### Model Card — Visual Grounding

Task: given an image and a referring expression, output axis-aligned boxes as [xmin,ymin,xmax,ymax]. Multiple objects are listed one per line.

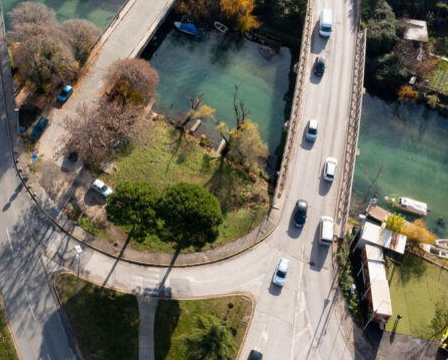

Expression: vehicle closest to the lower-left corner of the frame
[90,176,114,198]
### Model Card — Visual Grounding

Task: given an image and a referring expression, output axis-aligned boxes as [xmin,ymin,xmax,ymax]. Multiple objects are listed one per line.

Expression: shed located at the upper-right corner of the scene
[395,16,428,52]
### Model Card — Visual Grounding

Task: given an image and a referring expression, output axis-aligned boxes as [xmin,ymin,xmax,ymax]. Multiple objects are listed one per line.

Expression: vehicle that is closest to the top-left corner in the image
[57,82,73,100]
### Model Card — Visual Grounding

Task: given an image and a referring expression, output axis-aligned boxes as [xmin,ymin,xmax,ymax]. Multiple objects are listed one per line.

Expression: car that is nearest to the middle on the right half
[293,199,308,225]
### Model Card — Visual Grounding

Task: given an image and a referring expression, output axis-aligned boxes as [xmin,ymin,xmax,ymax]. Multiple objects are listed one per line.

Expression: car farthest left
[29,116,48,137]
